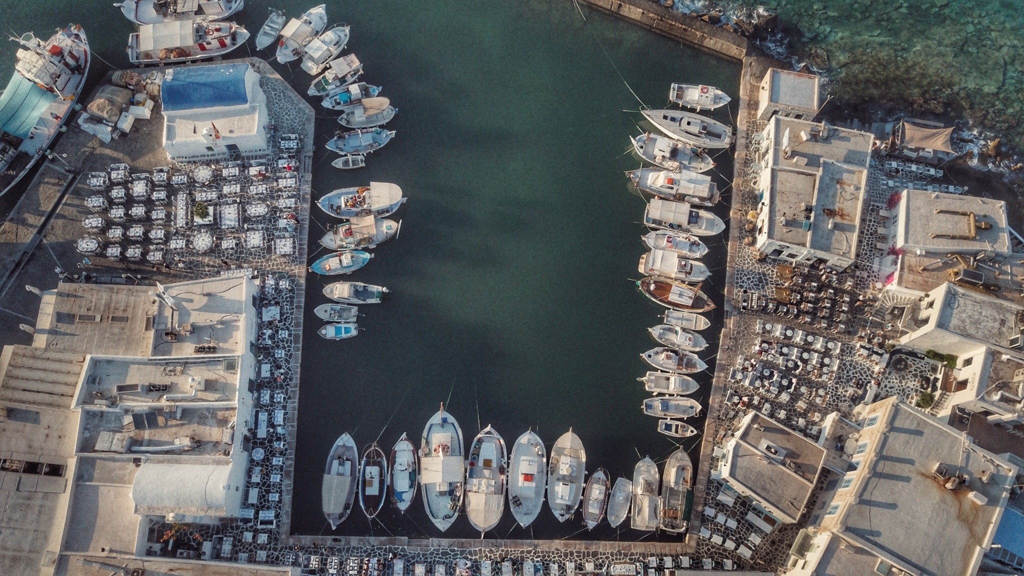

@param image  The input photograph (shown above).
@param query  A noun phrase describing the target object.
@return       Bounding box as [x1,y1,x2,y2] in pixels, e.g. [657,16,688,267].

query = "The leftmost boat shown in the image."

[0,16,90,203]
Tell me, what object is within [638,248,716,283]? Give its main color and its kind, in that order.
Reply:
white boat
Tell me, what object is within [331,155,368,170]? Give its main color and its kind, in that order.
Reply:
gray boat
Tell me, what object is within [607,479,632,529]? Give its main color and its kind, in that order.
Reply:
gray boat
